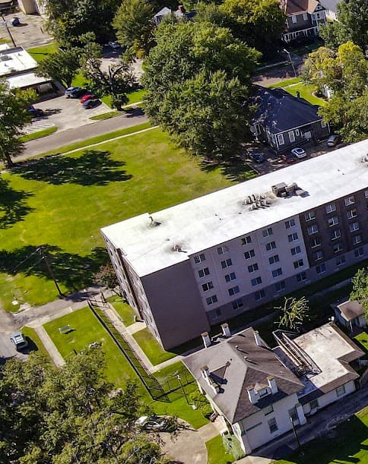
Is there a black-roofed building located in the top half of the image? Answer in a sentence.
Yes, looking in the top half of the image, one can make out a black-roofed building.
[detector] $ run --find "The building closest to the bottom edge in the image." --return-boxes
[182,319,368,452]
